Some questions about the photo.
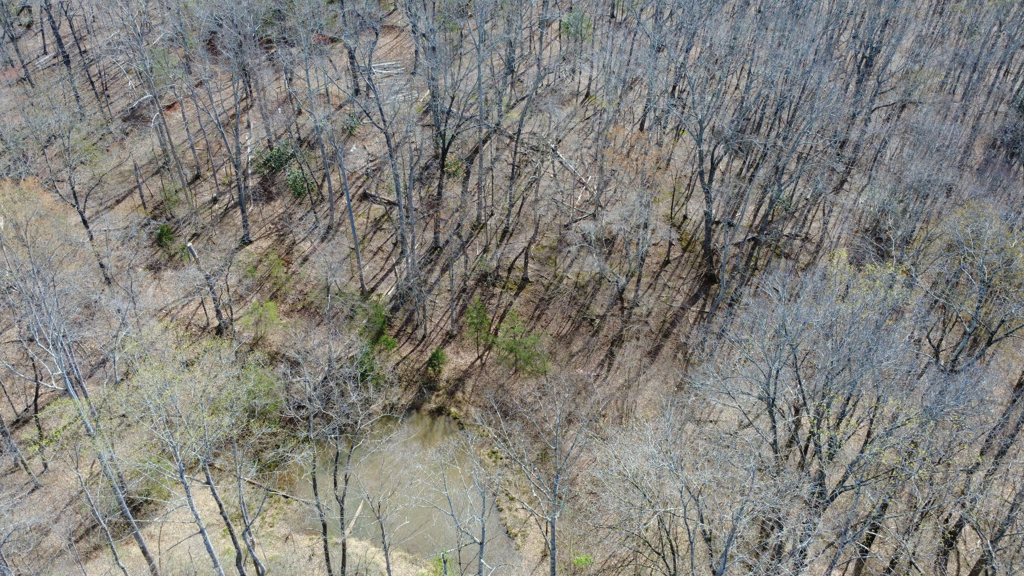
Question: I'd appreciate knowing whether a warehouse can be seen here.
No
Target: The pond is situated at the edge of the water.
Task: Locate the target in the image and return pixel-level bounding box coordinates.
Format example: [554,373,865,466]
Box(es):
[274,409,517,568]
